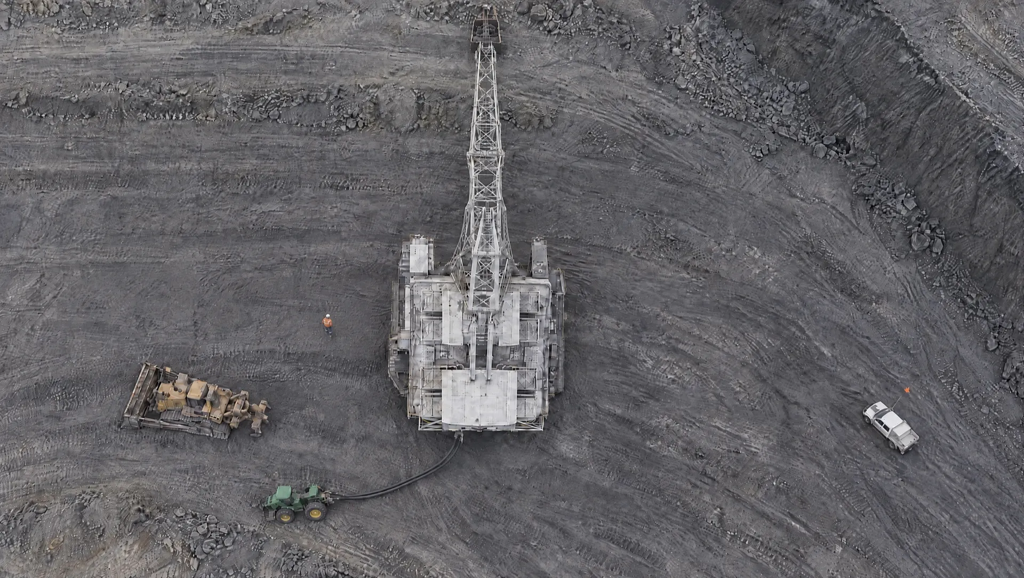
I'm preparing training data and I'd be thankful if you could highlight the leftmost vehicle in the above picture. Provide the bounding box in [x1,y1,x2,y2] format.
[120,361,264,446]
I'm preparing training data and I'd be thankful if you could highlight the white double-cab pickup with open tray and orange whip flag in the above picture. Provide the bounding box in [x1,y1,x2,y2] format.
[859,387,921,454]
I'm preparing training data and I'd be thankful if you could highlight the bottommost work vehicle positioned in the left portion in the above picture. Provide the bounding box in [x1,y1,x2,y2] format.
[258,483,335,527]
